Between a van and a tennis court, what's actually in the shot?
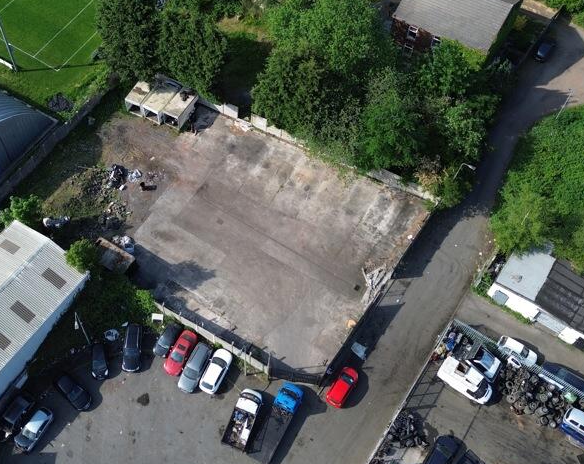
van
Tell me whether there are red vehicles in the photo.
Yes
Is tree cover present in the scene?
Yes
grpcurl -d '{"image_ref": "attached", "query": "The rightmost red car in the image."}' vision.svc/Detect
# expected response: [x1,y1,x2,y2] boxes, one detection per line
[327,368,357,407]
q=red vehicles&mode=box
[166,331,196,374]
[327,368,357,407]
